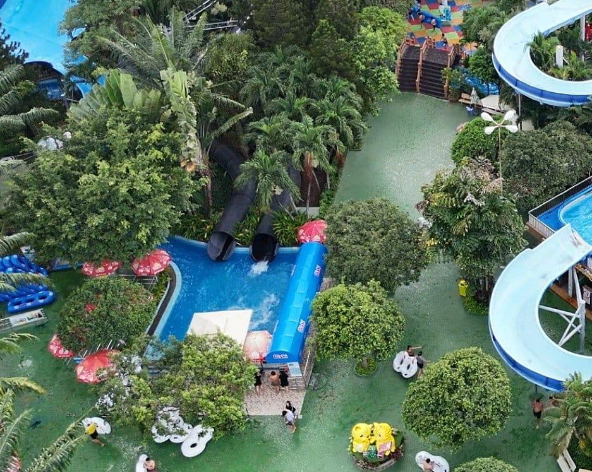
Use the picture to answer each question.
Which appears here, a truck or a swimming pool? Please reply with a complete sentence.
Of the two, only a swimming pool appears.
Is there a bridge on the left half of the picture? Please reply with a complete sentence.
No, no bridge appears on the left half of the picture.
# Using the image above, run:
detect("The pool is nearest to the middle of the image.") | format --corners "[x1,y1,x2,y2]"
[136,229,298,374]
